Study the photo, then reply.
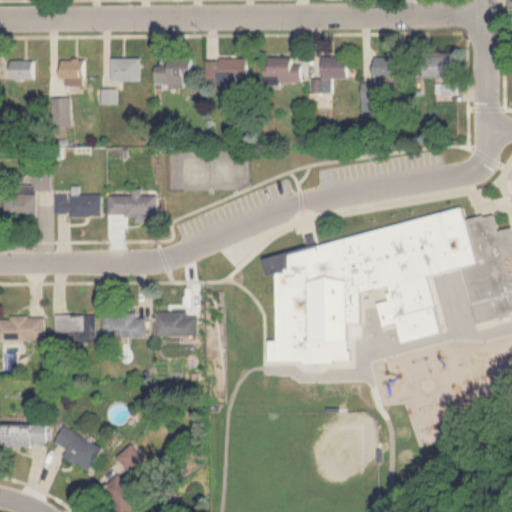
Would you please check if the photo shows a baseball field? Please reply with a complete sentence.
Yes, you can see a baseball field in this photo.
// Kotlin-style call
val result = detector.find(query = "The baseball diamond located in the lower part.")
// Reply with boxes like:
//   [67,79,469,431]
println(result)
[314,412,380,483]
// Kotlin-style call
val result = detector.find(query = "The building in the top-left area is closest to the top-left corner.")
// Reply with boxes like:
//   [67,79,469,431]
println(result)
[6,60,36,82]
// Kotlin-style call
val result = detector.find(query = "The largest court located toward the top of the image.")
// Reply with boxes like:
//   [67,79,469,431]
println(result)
[170,150,250,191]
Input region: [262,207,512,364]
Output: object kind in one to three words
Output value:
building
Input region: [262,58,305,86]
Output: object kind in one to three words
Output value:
house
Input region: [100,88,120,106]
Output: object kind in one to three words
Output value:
building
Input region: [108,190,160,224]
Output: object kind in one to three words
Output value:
house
